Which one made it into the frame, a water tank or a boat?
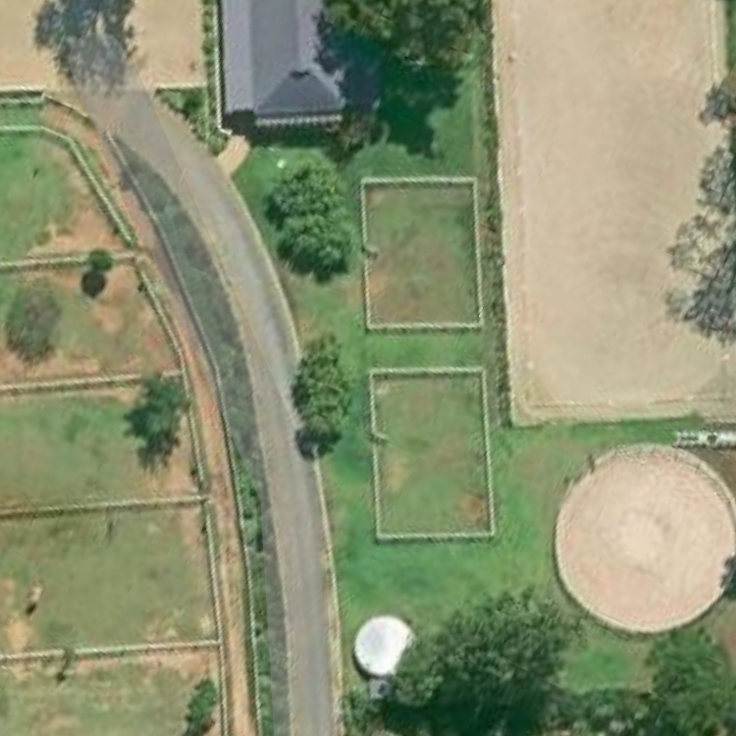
water tank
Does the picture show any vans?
No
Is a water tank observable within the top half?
No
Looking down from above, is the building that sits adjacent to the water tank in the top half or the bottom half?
bottom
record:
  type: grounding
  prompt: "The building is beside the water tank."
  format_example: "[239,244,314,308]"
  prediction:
[369,679,390,700]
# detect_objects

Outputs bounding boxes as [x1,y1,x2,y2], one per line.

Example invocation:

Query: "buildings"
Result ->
[369,679,390,700]
[222,0,346,126]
